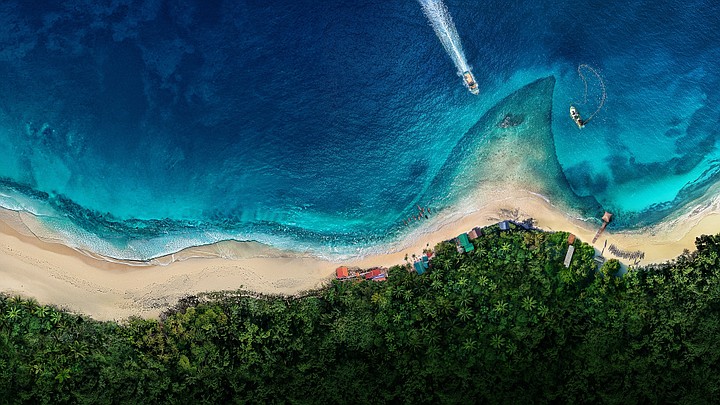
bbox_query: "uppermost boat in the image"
[463,70,478,94]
